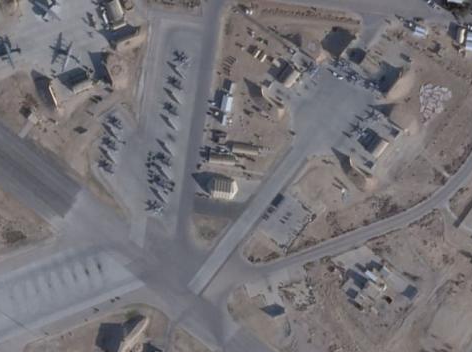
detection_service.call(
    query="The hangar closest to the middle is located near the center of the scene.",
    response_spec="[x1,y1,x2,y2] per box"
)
[213,178,236,199]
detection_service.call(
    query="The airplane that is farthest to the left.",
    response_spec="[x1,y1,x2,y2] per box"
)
[0,40,21,70]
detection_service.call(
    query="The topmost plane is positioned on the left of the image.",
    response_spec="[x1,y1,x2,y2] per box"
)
[34,0,60,24]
